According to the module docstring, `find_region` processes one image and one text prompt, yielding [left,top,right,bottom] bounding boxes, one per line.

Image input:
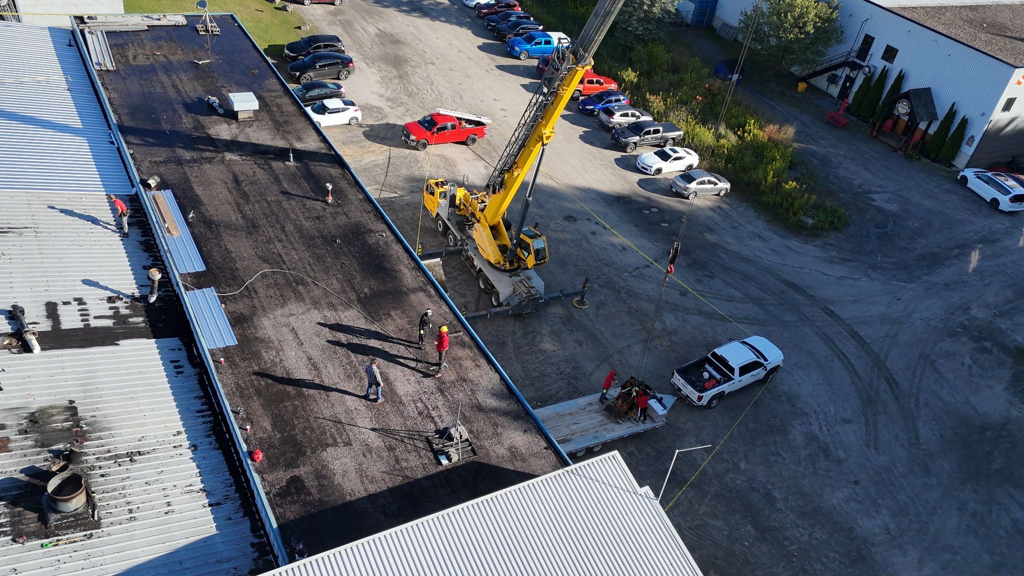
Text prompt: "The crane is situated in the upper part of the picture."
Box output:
[420,0,631,325]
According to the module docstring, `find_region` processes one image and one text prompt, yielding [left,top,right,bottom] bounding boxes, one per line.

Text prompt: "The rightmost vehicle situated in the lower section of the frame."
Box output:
[666,333,788,409]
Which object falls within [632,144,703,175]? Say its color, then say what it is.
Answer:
white car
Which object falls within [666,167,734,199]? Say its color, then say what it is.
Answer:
gray car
